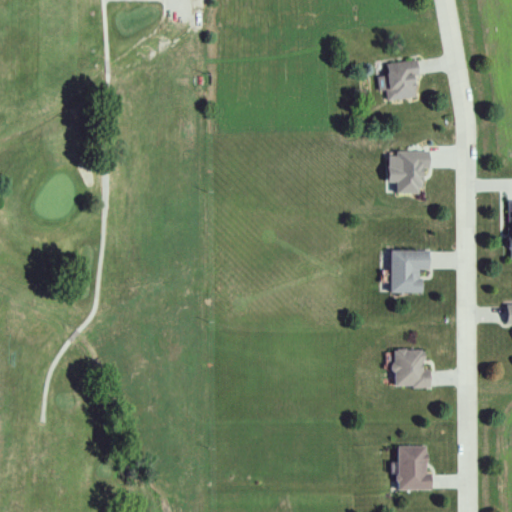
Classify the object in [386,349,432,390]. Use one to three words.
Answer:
house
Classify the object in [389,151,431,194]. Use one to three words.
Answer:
house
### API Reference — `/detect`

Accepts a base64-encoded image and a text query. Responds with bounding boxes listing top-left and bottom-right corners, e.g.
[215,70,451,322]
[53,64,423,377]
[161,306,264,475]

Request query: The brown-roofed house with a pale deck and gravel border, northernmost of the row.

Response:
[378,62,420,100]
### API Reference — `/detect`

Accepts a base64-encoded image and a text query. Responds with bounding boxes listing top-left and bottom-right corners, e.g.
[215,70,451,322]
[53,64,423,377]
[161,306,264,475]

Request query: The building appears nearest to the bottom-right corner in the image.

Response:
[391,446,432,490]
